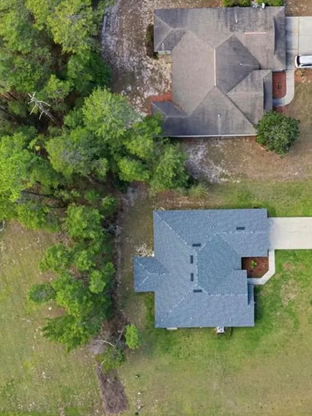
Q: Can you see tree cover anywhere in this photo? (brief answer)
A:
Yes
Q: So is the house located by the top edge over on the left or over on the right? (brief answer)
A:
right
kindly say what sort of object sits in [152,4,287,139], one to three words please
house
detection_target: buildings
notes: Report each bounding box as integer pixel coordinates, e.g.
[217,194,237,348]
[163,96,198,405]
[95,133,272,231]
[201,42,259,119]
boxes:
[152,4,287,139]
[133,208,268,329]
